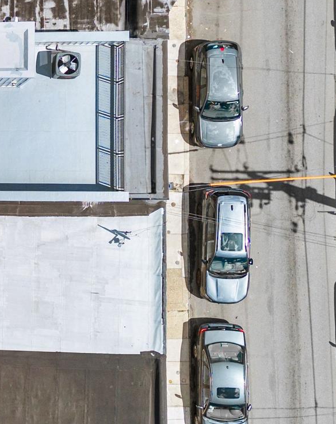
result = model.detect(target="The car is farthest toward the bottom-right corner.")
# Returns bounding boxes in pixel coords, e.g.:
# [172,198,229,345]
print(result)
[192,316,254,424]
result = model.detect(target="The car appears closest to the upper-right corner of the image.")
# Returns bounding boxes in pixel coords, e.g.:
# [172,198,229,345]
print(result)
[191,34,249,148]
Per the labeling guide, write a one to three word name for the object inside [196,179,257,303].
car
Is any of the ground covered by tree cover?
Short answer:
No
